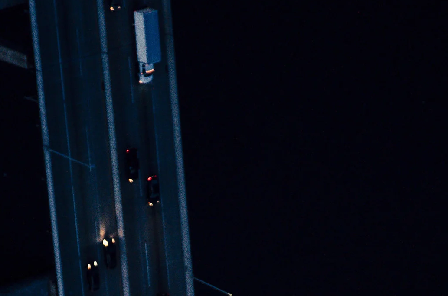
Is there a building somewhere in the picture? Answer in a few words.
No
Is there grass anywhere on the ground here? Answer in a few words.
No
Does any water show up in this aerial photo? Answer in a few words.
Yes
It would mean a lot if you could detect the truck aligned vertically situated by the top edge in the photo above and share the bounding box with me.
[131,6,161,82]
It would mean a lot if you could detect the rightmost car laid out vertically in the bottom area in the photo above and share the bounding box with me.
[145,174,160,206]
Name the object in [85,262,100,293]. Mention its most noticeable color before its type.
black car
